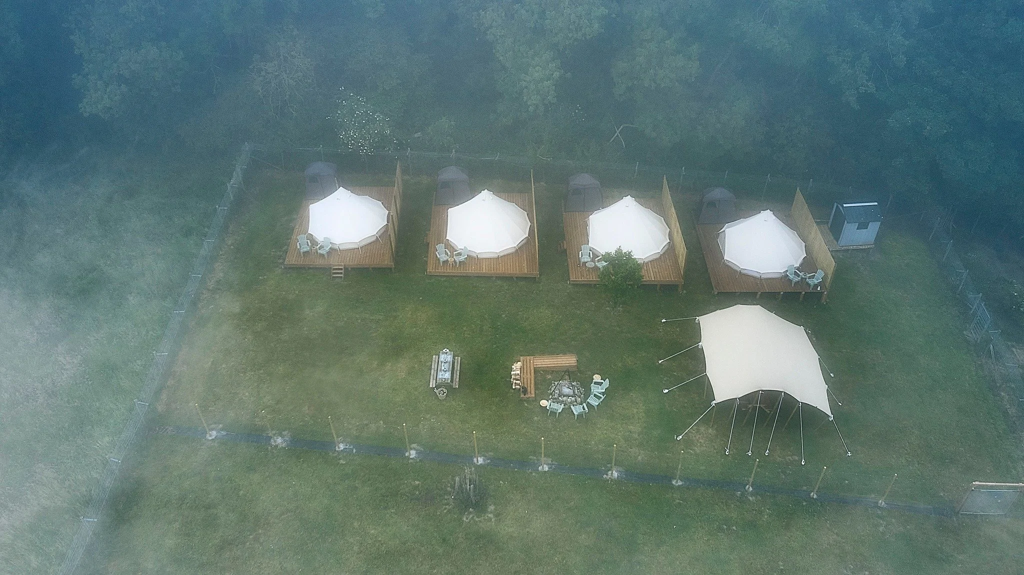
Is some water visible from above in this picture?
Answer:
No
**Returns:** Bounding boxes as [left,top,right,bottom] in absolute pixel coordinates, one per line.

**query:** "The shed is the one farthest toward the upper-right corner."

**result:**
[826,198,885,246]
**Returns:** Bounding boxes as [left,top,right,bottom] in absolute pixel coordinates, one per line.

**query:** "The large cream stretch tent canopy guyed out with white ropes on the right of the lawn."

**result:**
[658,305,852,465]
